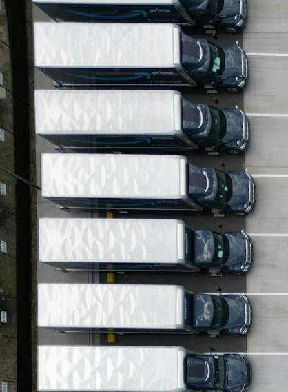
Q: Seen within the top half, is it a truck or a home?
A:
truck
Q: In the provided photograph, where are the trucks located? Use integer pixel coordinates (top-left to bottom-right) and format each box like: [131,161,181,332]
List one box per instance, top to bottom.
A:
[31,0,247,32]
[33,22,248,92]
[34,90,250,155]
[40,153,255,214]
[37,217,253,274]
[36,282,252,336]
[37,345,253,392]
